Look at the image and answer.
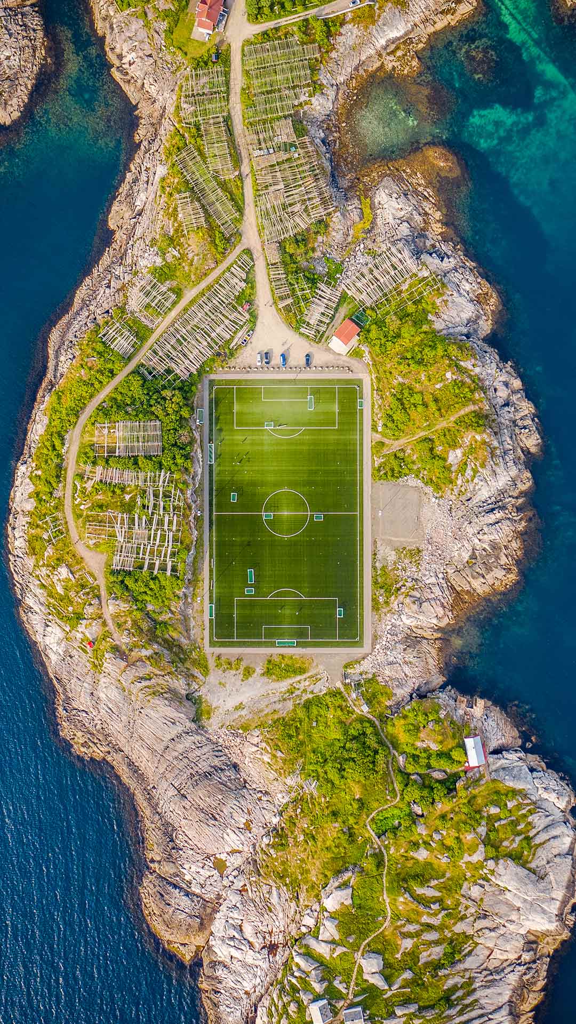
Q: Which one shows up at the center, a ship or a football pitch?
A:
football pitch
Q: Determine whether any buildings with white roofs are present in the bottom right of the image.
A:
Yes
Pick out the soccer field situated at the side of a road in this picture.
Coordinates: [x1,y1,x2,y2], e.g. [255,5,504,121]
[203,372,371,653]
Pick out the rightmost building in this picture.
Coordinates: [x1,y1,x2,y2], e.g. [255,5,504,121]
[465,735,487,771]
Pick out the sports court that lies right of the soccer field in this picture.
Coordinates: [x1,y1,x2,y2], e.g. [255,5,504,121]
[372,482,423,547]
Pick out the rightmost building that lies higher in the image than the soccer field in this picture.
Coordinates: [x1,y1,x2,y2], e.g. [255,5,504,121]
[328,318,361,355]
